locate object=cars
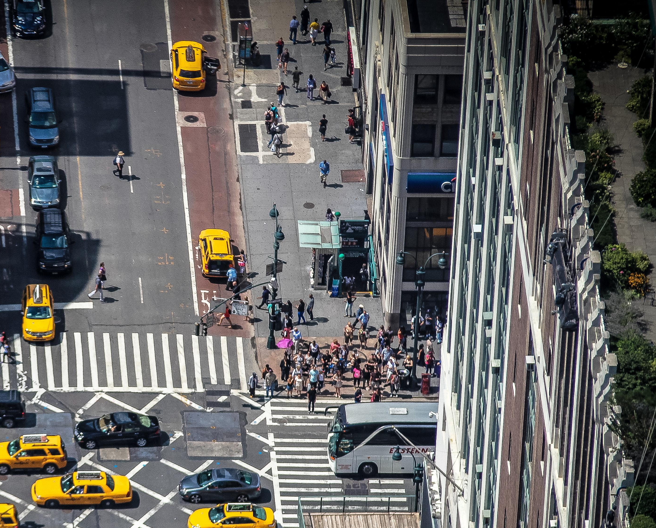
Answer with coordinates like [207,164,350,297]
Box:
[72,415,163,452]
[31,472,132,513]
[0,53,19,96]
[25,159,65,212]
[174,470,266,508]
[33,209,75,272]
[24,88,63,145]
[168,45,221,95]
[185,504,278,528]
[0,504,21,528]
[0,388,33,433]
[19,281,59,341]
[195,235,249,287]
[0,434,69,478]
